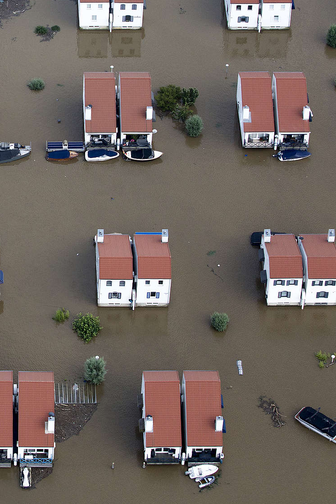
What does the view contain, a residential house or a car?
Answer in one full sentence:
Of the two, only a residential house appears.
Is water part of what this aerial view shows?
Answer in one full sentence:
Yes, there is water in the image.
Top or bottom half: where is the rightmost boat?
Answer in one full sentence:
Seen from above, the rightmost boat lies in the bottom half of the view.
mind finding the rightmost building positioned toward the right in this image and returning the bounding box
[298,228,336,306]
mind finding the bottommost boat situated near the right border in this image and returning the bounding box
[295,407,336,444]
